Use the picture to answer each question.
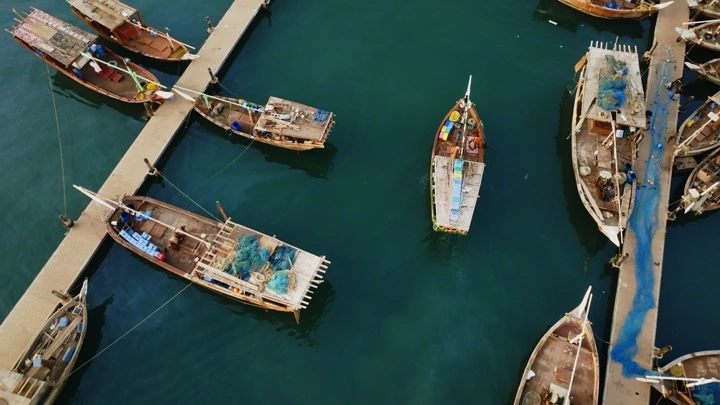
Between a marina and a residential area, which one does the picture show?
marina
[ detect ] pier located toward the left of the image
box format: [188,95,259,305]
[0,0,263,380]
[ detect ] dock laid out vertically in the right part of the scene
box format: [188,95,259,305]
[600,0,689,405]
